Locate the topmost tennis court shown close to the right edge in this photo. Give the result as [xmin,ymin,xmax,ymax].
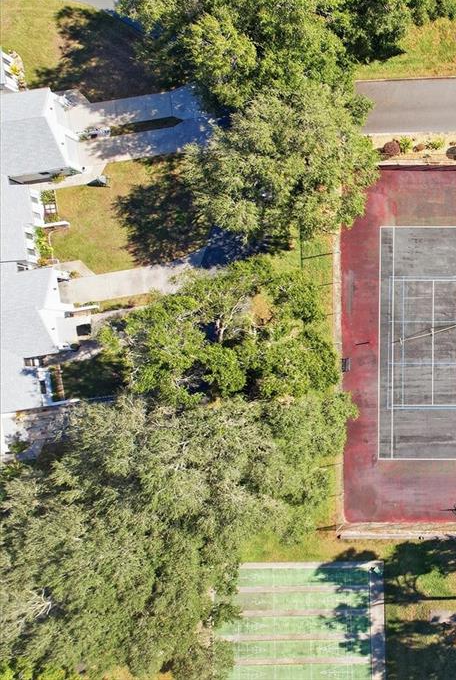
[379,226,456,460]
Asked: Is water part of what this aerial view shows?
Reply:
No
